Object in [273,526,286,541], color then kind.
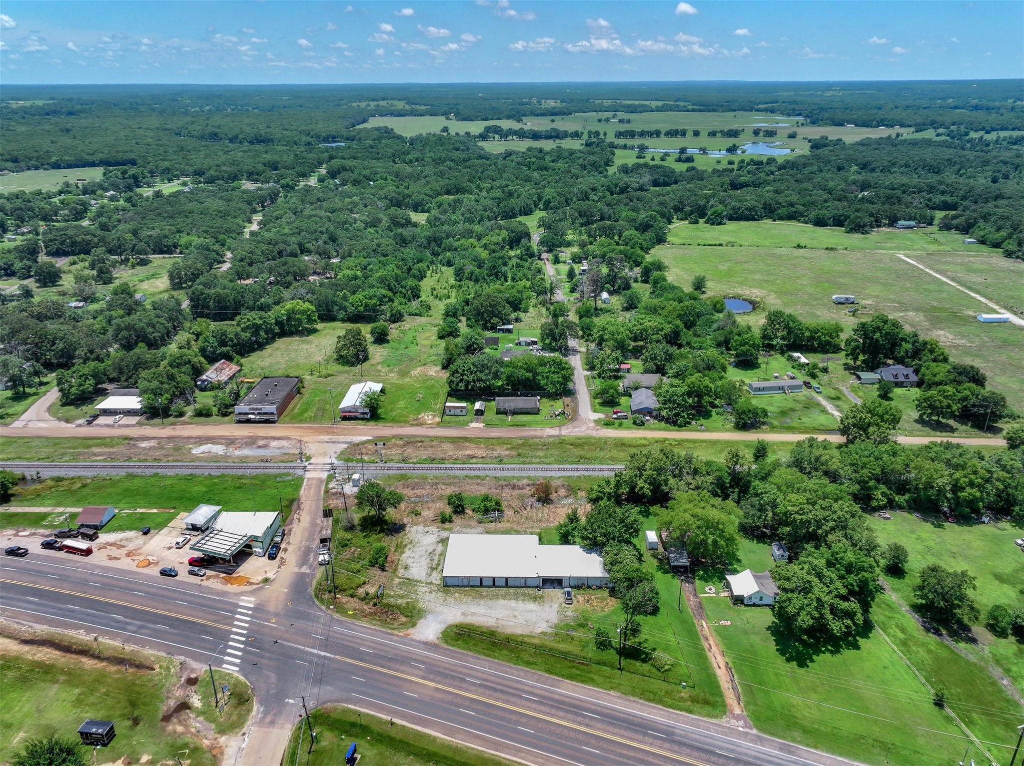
gray vehicle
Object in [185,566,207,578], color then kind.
gray vehicle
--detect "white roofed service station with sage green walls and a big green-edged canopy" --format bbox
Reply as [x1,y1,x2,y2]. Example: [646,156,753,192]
[189,497,281,569]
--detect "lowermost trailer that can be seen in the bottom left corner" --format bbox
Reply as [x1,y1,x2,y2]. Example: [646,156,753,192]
[77,719,115,746]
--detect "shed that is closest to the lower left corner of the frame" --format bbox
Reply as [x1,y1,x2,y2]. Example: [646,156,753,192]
[75,507,115,532]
